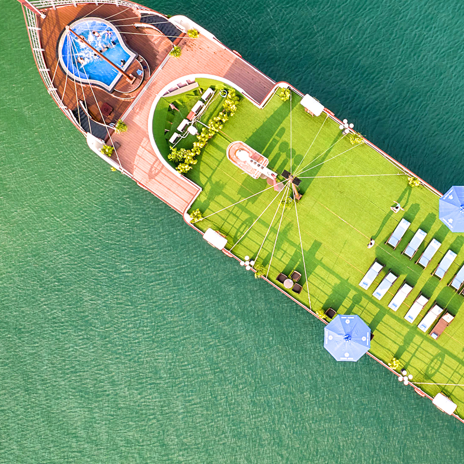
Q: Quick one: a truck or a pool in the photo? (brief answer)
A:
pool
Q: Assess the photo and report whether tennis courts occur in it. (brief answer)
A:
No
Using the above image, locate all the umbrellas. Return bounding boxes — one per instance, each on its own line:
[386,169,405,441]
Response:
[325,316,372,362]
[439,187,464,233]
